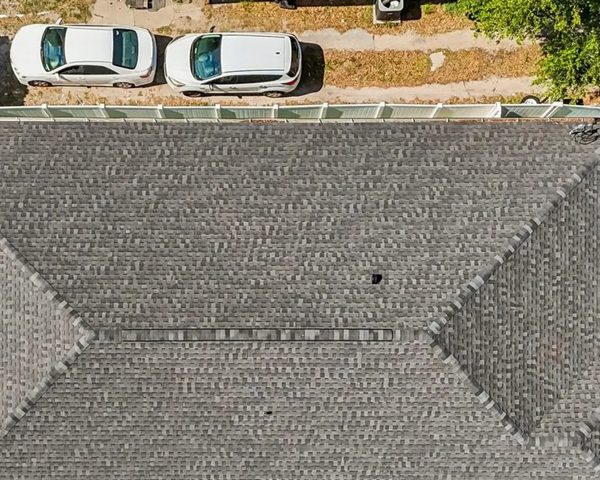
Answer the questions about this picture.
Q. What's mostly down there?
buildings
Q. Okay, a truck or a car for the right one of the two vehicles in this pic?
car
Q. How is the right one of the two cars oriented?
from side to side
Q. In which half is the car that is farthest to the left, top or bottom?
top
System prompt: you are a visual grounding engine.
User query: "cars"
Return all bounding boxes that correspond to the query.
[166,27,303,96]
[13,21,156,88]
